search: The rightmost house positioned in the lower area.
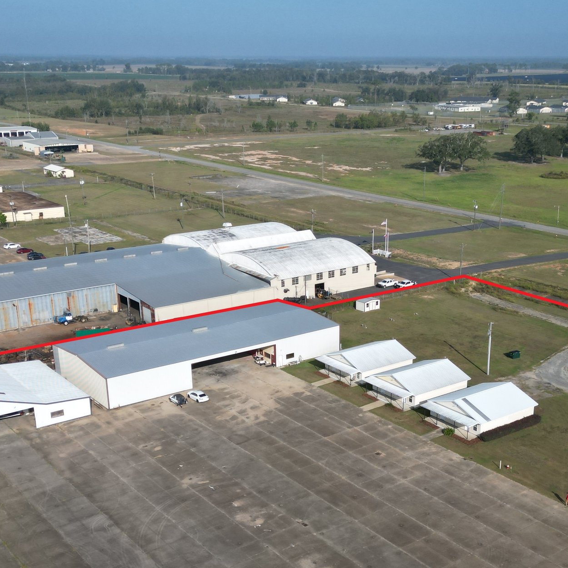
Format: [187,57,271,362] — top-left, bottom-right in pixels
[417,381,536,440]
